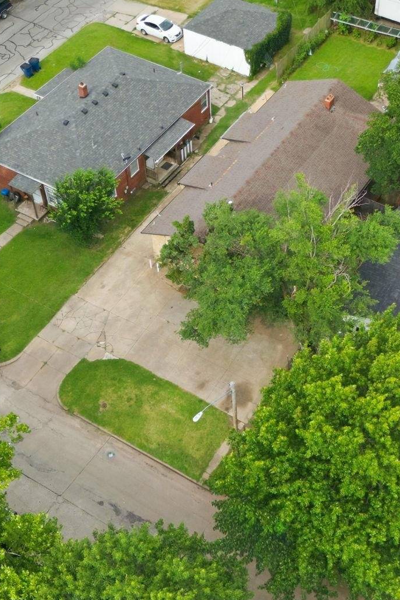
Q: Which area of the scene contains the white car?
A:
top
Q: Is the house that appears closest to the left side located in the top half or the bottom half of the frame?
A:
top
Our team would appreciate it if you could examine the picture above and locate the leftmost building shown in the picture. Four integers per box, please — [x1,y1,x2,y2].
[0,45,213,229]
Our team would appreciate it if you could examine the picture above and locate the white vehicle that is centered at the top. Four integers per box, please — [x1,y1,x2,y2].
[133,13,183,42]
